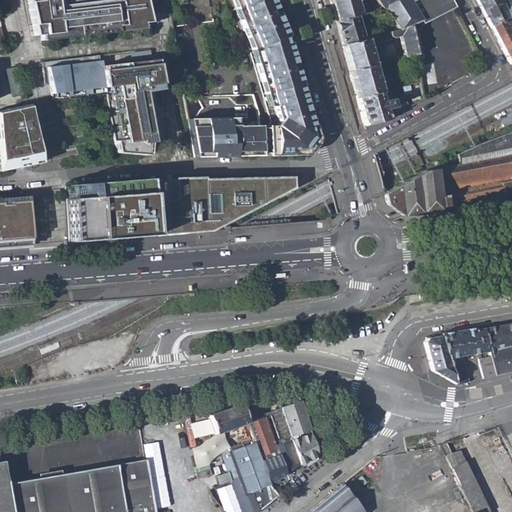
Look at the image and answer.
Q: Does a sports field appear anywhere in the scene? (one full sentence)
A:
No, I can see no sports field in this picture.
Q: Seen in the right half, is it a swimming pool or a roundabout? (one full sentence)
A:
What appears in the right half is a roundabout.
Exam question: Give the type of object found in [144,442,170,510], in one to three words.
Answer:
shed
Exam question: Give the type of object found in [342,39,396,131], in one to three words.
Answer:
house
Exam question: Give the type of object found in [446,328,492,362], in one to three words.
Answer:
house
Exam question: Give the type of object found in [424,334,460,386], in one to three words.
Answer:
building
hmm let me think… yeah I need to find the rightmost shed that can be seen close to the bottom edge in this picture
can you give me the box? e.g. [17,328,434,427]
[446,450,490,512]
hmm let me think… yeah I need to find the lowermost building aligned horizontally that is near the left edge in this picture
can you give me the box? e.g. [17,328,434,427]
[16,465,130,512]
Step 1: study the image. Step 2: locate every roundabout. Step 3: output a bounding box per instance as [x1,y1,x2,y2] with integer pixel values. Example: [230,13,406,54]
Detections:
[337,216,396,275]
